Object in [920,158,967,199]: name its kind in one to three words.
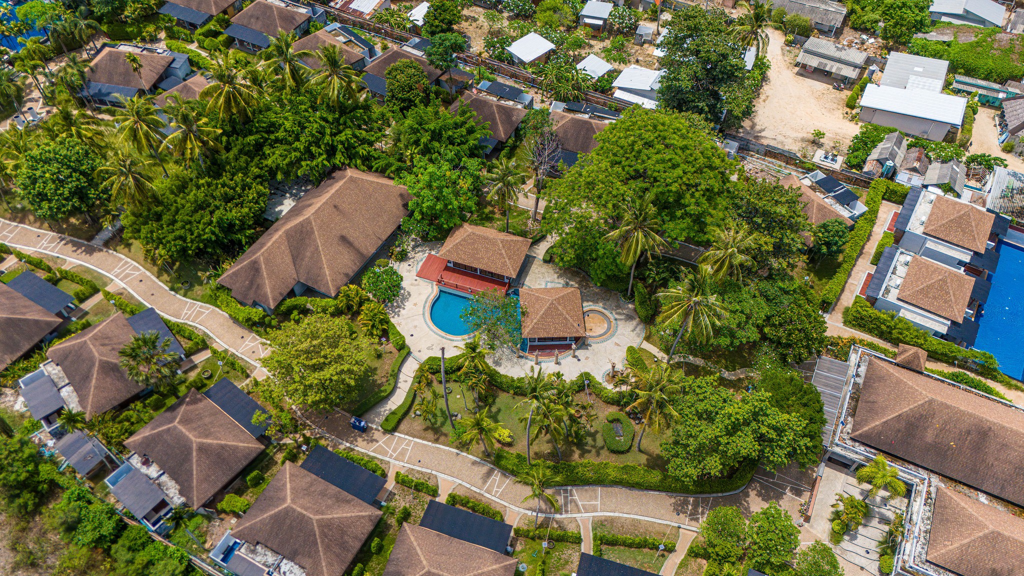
shed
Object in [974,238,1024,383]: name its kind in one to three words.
swimming pool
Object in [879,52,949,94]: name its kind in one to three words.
house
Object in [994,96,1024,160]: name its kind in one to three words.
house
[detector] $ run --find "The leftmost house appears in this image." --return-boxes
[0,270,82,374]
